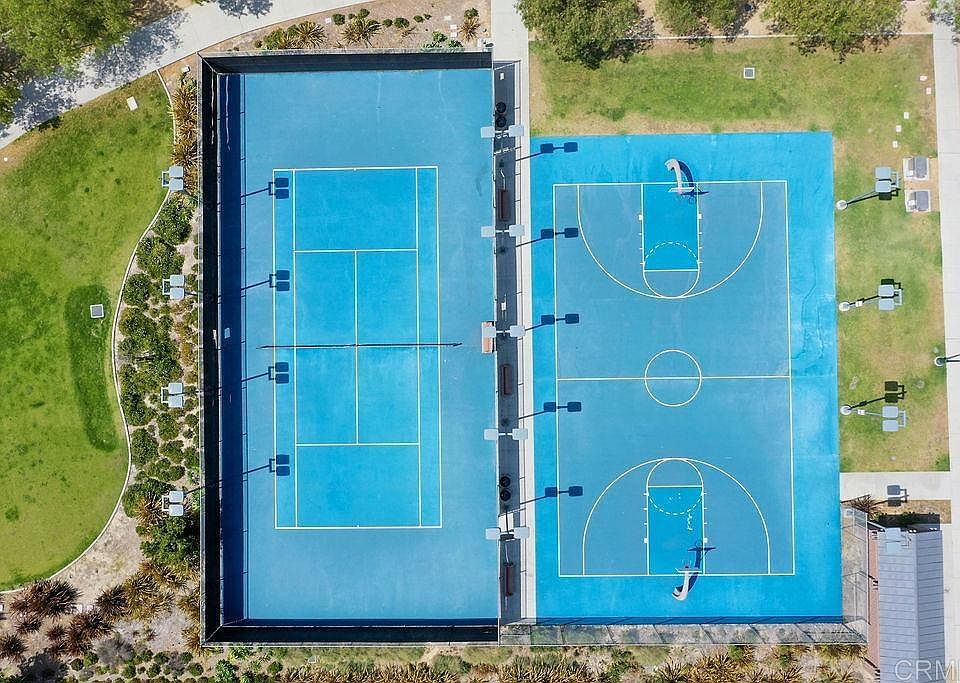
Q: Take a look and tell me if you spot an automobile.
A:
No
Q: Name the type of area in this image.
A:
sports ground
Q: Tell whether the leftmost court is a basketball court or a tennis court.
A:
tennis court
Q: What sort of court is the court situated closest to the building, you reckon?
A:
basketball court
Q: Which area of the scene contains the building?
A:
bottom right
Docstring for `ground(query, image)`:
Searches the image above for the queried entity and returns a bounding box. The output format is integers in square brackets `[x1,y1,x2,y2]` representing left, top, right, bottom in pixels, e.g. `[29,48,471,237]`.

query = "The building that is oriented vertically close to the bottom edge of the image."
[866,521,947,683]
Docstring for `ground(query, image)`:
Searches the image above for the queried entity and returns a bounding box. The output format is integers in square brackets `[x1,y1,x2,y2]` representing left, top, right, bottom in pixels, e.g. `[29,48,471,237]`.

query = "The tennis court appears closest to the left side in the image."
[222,67,501,627]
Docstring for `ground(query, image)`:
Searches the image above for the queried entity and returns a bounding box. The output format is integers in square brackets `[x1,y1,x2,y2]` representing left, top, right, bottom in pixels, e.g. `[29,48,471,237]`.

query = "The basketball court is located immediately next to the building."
[530,132,843,625]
